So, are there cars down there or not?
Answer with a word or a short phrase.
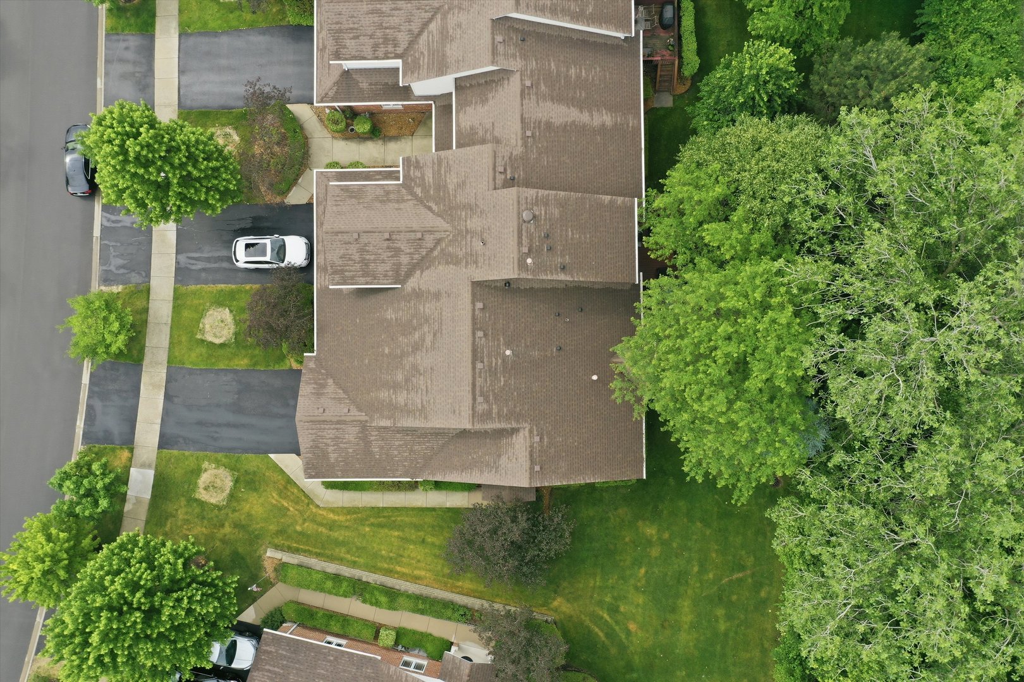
Yes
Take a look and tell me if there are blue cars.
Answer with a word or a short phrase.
No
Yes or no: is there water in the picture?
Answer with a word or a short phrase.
No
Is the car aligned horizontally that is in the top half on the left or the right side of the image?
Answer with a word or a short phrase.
left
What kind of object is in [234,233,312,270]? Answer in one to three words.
car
